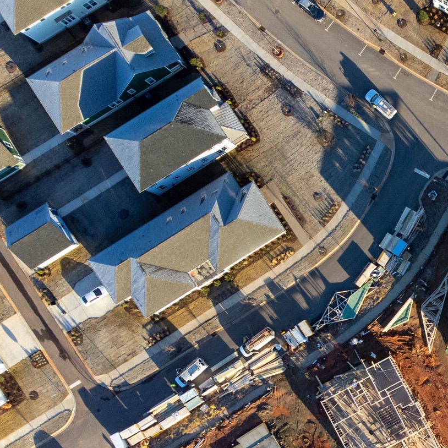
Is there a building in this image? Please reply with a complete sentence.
Yes, a building can be made out from above.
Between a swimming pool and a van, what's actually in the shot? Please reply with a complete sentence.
Visible in the photo is a van.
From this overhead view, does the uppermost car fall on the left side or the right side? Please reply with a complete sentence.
The uppermost car appears in the right half of the scene.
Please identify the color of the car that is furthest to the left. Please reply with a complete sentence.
The car that is furthest to the left looks white in the image.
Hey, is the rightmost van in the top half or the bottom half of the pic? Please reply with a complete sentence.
The rightmost van is in the top half of the image.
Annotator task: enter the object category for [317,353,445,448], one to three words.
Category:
house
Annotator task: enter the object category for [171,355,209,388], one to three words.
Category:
van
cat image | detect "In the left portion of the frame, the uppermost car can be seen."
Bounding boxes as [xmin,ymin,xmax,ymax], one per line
[76,286,108,306]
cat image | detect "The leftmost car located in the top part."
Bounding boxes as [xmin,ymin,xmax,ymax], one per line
[295,0,324,22]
